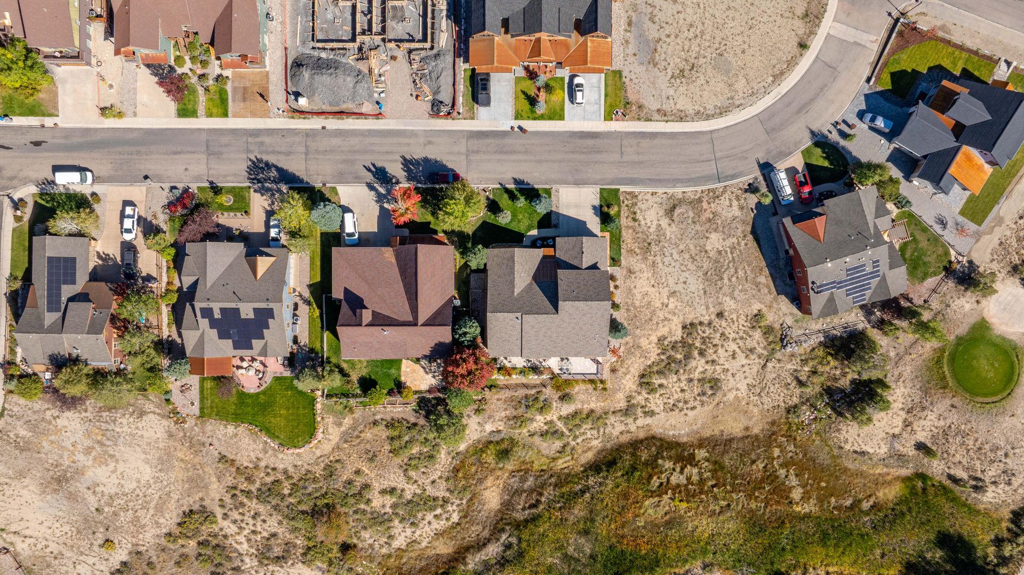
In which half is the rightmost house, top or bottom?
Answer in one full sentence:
It is in the top half that the rightmost house appears.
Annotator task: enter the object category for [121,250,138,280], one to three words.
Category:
car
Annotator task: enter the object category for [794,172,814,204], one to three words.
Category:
vehicle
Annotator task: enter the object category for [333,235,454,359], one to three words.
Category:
house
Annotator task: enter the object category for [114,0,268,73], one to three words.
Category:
house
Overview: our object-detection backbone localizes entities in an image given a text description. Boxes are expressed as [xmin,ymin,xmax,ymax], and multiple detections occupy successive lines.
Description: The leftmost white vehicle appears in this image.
[53,169,96,185]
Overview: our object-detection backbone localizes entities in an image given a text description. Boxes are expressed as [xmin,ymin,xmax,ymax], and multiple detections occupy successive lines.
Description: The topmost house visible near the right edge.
[887,73,1024,196]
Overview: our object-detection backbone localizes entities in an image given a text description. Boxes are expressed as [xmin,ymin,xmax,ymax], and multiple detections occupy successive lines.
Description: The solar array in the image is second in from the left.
[200,308,274,350]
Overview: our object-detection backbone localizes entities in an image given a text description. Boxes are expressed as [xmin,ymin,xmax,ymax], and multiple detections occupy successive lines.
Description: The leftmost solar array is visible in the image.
[47,257,76,312]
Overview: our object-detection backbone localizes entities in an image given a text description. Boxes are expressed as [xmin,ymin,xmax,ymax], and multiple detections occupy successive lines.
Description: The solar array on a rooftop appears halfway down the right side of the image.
[817,259,880,306]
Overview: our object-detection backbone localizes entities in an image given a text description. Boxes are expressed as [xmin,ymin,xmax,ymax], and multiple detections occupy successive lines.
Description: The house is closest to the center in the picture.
[486,237,612,358]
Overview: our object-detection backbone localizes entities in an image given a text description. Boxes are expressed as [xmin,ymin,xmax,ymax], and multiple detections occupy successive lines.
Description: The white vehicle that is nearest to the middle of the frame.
[343,211,359,246]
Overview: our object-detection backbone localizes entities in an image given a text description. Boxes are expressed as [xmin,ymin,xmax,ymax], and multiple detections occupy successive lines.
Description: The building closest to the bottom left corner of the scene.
[13,235,126,376]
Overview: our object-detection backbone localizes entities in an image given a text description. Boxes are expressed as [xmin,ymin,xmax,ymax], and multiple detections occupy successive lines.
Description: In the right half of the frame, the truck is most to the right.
[860,112,895,135]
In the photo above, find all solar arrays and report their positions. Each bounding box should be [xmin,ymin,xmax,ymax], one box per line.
[47,257,76,312]
[817,259,880,306]
[200,308,274,350]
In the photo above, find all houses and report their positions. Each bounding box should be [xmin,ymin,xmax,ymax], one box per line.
[13,235,126,376]
[178,242,293,378]
[333,235,454,359]
[0,0,91,68]
[114,0,268,73]
[887,73,1024,196]
[774,184,908,319]
[486,237,612,358]
[469,0,611,73]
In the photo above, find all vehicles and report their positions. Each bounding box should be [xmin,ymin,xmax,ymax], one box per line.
[121,250,138,280]
[343,211,359,246]
[770,168,793,205]
[794,172,814,204]
[53,169,96,185]
[860,112,895,135]
[120,205,139,241]
[572,75,587,107]
[267,214,283,248]
[476,73,491,108]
